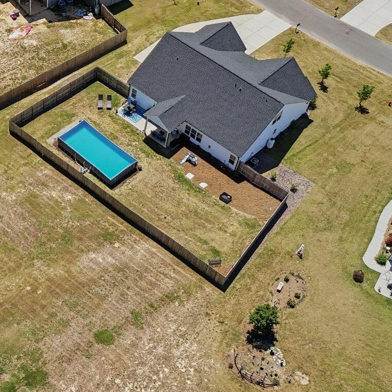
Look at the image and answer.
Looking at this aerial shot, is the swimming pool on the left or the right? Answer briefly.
left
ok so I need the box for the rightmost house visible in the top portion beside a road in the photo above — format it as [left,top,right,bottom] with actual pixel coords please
[129,22,316,170]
